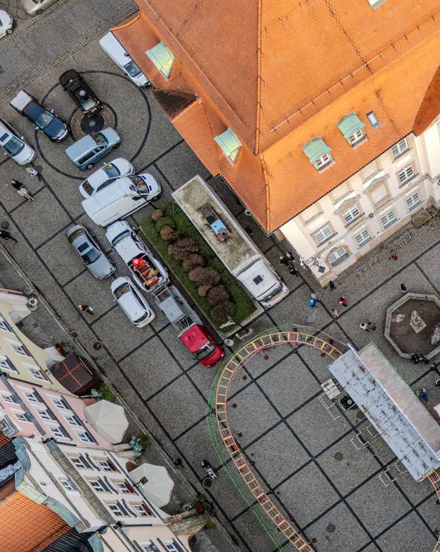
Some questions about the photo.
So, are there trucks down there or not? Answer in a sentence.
Yes, I can see a truck in this picture.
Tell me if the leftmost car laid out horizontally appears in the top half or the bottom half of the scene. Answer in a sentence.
The leftmost car laid out horizontally sits in the top half of the picture.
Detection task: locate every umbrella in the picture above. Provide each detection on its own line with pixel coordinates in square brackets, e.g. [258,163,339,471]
[87,401,129,441]
[134,466,175,506]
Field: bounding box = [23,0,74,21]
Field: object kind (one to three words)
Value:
car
